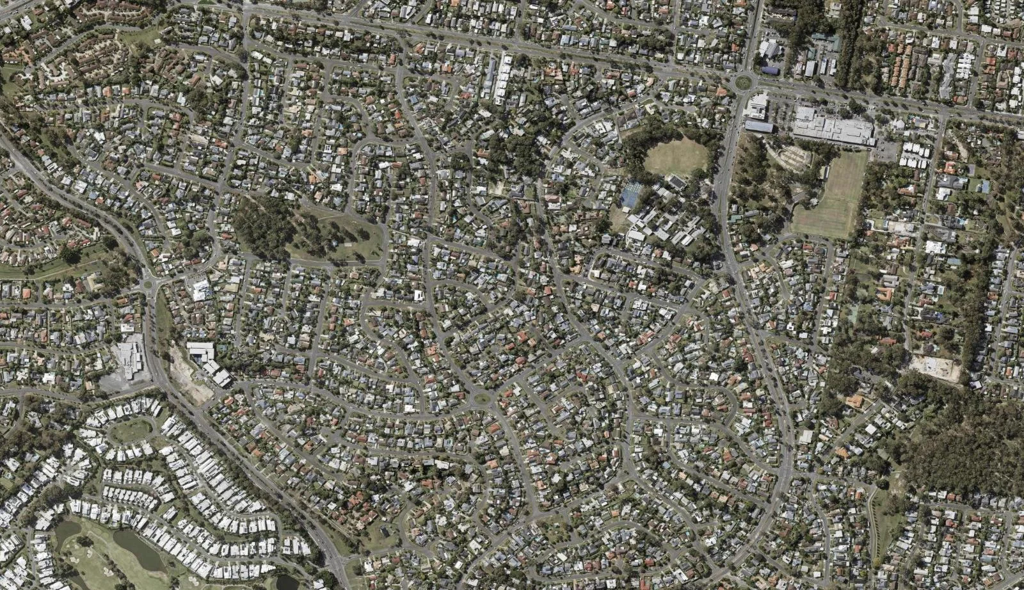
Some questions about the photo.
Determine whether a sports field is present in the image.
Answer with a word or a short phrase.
Yes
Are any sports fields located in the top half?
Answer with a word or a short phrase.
Yes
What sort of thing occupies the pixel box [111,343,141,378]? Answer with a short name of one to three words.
building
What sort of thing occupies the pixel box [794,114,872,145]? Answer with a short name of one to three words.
building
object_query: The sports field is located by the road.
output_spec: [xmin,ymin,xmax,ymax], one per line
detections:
[792,151,867,237]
